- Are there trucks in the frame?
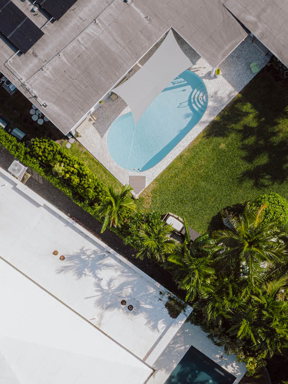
No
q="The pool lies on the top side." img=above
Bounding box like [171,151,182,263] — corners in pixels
[104,67,210,176]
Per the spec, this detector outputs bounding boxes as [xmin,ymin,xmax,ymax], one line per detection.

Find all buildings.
[0,0,288,140]
[0,168,192,384]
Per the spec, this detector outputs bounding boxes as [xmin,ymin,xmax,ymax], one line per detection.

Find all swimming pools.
[164,347,237,384]
[104,67,210,176]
